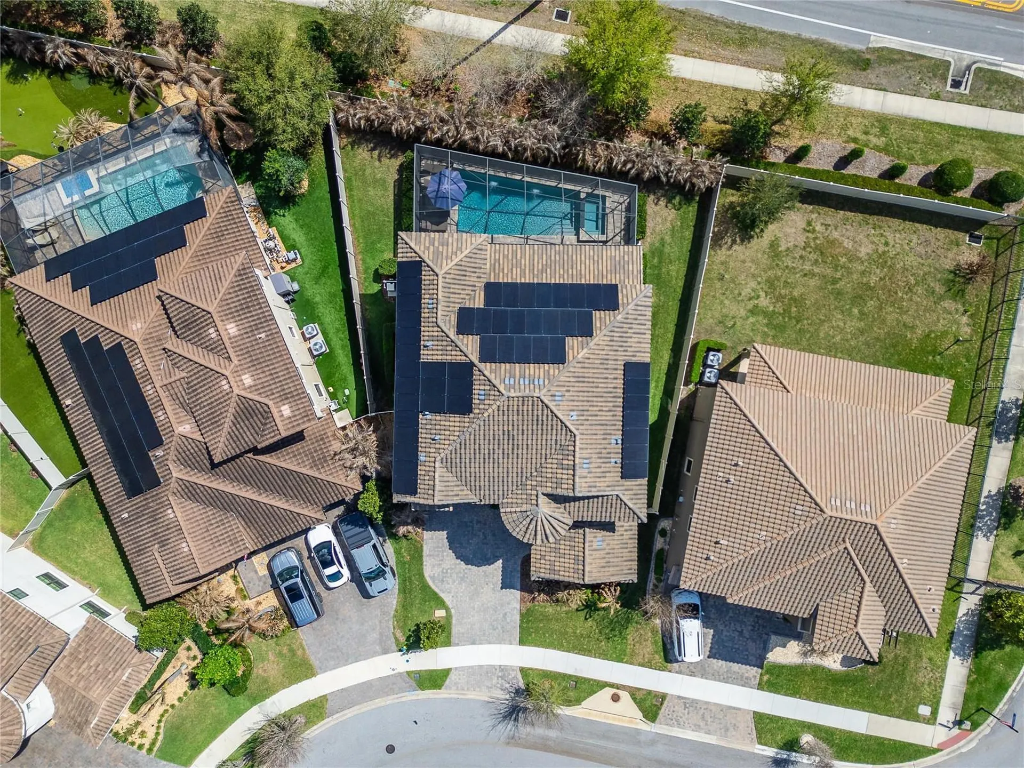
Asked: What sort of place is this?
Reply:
residential area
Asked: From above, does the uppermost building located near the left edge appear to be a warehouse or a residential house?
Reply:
residential house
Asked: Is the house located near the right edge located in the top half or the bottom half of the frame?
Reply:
bottom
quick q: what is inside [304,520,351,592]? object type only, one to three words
car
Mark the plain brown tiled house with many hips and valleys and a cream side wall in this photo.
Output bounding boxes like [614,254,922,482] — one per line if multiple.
[6,185,362,604]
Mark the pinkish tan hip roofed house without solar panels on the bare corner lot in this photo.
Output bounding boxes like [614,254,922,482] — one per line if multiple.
[667,343,980,664]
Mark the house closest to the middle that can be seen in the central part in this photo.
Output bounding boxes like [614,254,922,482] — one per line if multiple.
[391,231,654,585]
